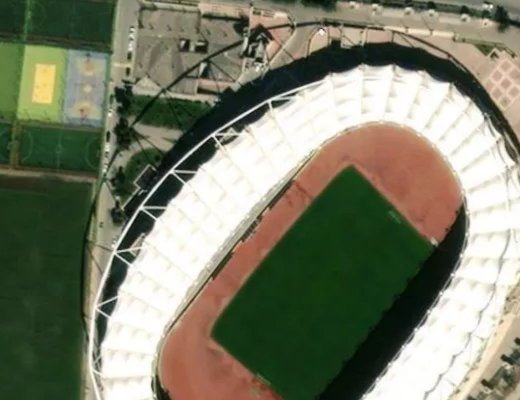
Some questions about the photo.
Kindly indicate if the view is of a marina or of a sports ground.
sports ground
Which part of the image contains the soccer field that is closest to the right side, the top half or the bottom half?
bottom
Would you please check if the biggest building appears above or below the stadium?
above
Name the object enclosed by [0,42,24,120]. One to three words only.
sports court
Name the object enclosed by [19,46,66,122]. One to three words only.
sports court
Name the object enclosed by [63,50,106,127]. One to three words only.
basketball court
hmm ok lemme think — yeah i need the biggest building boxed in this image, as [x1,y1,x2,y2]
[240,26,269,67]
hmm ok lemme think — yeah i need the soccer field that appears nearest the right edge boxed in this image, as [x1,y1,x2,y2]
[210,165,453,400]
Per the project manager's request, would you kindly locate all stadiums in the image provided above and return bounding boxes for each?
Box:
[84,64,520,400]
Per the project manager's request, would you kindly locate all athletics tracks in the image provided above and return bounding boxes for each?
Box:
[157,124,468,400]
